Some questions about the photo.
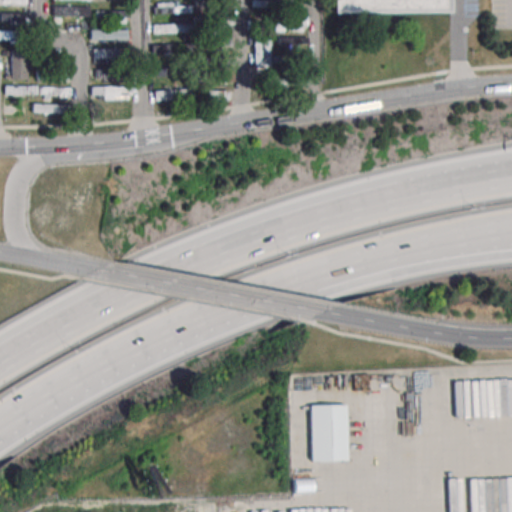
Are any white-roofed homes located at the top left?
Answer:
Yes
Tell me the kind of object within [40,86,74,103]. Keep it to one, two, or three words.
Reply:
house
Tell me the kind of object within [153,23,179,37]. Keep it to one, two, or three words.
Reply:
house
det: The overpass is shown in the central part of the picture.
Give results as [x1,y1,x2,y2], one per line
[80,256,336,324]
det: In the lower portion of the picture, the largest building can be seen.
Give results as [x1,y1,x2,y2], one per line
[310,404,349,462]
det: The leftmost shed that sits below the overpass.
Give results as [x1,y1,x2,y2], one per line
[294,478,317,493]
